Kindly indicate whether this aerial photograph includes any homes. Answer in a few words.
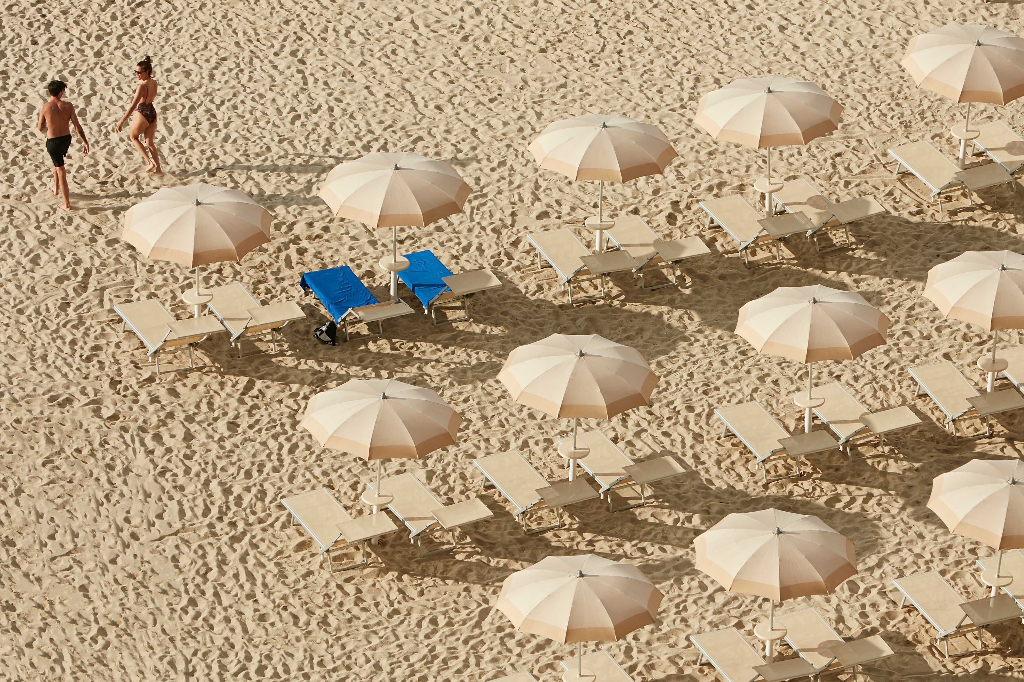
No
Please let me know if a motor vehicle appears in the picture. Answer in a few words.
No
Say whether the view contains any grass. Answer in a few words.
No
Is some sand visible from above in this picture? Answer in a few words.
Yes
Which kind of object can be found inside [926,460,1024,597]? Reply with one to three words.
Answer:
umbrella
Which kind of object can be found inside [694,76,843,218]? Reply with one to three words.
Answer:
umbrella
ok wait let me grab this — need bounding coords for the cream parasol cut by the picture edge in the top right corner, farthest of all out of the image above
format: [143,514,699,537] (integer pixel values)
[899,24,1024,170]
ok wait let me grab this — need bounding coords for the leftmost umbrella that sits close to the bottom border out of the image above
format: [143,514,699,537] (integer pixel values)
[494,554,664,682]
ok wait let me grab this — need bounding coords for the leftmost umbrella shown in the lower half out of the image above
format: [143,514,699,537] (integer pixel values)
[300,379,464,516]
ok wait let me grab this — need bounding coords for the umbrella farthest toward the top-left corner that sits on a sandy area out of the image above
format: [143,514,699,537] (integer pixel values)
[120,183,273,317]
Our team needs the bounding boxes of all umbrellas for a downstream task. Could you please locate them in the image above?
[926,460,1024,597]
[899,24,1024,170]
[494,554,664,682]
[317,152,473,304]
[527,113,680,253]
[120,183,273,317]
[300,379,464,516]
[734,285,891,434]
[694,76,843,218]
[695,509,858,663]
[497,334,660,481]
[922,249,1024,394]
